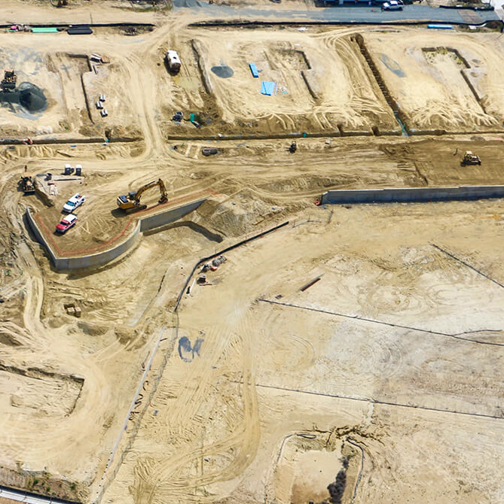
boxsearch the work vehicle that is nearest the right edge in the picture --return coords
[462,150,482,165]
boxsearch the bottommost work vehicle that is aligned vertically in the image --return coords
[21,169,36,195]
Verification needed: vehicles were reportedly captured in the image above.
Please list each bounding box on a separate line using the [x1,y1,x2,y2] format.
[165,51,182,71]
[54,213,78,231]
[462,150,482,165]
[381,1,402,10]
[21,169,36,195]
[3,67,14,89]
[288,139,298,151]
[393,0,414,5]
[62,196,85,211]
[118,176,165,216]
